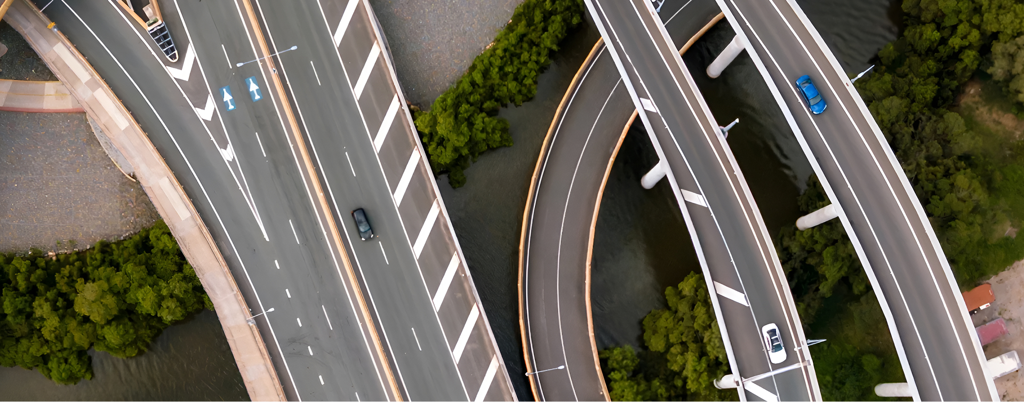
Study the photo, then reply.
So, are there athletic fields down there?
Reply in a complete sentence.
No, I can see no athletic field in this picture.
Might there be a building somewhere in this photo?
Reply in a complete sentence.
No, the frame has no building in it.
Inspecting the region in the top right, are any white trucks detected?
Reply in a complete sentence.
No, I can find no white truck in the top right.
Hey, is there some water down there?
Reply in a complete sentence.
Yes, the picture does contain water.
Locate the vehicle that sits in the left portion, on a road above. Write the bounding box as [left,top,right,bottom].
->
[352,207,374,242]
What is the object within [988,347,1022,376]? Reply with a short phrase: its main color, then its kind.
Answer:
white truck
